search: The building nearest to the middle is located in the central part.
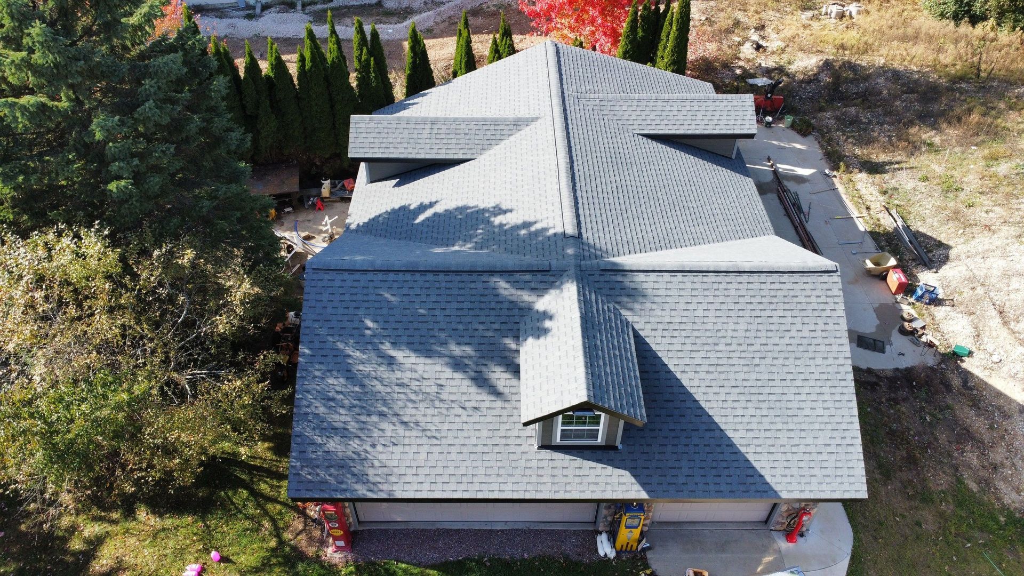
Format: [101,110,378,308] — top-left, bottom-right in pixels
[289,40,868,534]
